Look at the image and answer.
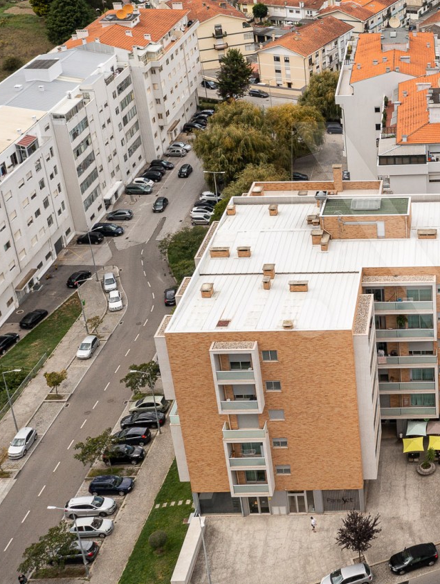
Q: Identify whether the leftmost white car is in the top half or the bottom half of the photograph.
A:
bottom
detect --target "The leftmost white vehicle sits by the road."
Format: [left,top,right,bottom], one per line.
[8,428,38,461]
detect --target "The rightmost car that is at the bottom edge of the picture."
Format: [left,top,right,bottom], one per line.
[388,543,440,576]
